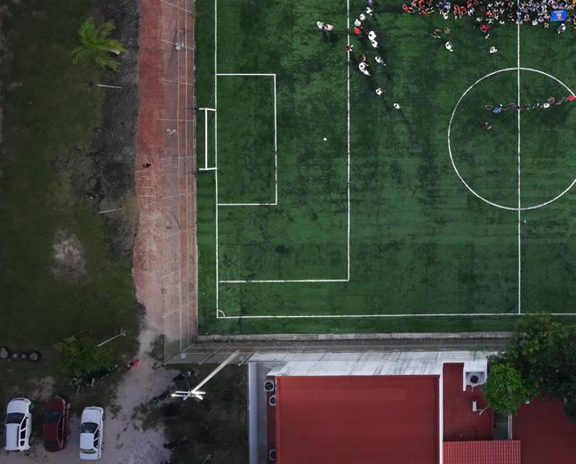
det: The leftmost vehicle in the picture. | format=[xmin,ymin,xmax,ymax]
[2,398,34,454]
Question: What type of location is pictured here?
sports ground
